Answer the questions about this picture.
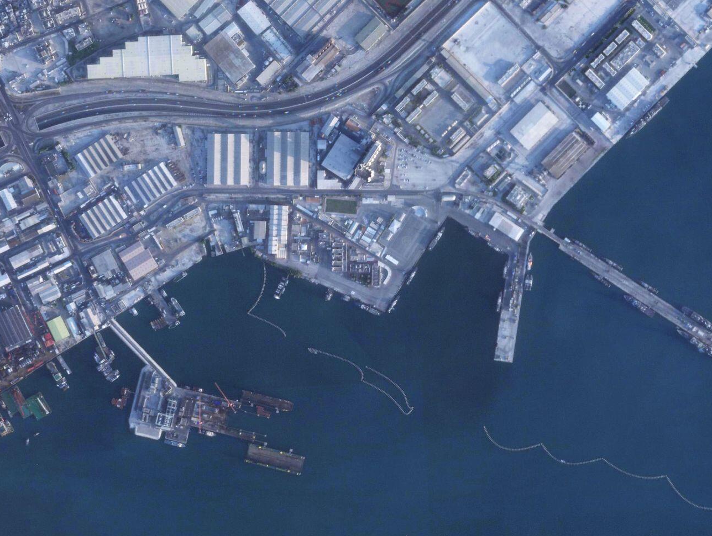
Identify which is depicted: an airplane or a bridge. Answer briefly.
bridge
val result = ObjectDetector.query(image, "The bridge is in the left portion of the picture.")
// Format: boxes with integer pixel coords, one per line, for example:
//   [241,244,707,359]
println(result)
[107,318,179,389]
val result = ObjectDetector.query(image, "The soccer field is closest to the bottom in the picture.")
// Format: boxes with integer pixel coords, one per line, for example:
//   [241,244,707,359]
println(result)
[324,197,359,216]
